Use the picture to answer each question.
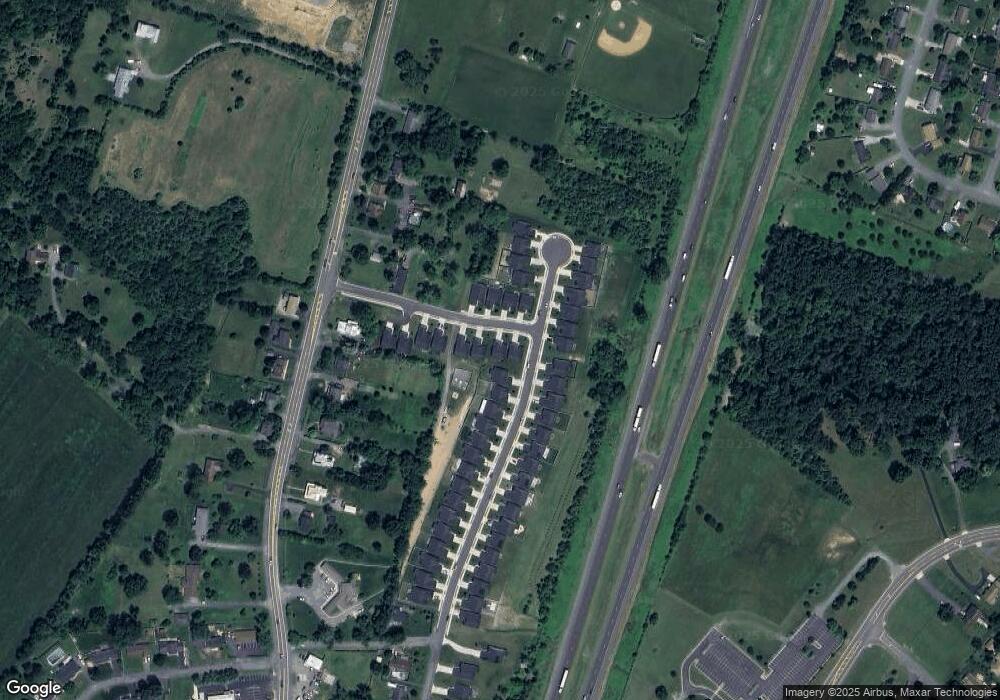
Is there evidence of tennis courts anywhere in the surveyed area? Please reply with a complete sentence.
No, I can see no tennis court in this picture.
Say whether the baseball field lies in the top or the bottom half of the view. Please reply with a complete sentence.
The baseball field is in the top half of the image.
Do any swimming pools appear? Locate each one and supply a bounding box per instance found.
[48,648,65,665]
[942,223,953,233]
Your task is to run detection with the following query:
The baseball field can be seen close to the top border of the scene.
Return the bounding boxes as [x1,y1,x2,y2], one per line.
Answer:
[598,0,651,57]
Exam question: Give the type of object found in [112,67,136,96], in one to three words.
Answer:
house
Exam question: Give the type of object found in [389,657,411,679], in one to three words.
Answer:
house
